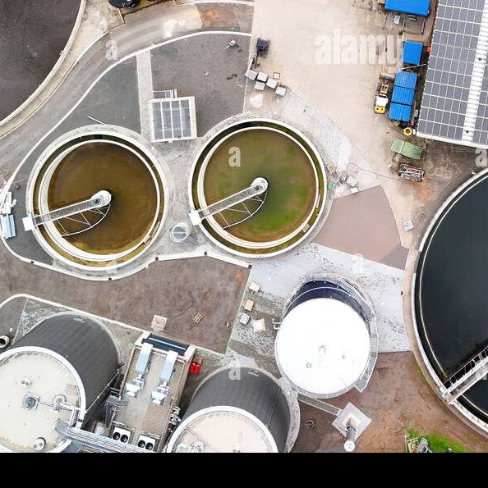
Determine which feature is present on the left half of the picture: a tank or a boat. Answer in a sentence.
Looking on the left half of the picture, you will find a tank.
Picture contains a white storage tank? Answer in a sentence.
Yes, a white storage tank appears in the view.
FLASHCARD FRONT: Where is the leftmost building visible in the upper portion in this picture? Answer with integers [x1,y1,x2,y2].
[150,96,198,143]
